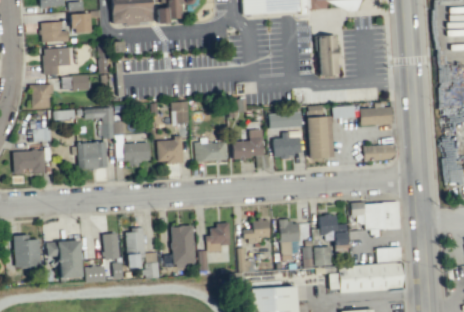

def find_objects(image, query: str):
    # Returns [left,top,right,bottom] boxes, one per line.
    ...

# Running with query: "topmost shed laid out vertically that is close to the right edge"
[440,132,458,184]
